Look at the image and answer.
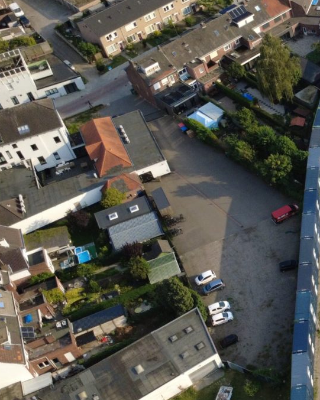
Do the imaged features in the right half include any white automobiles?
Yes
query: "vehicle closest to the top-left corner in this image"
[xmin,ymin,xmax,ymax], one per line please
[9,2,23,16]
